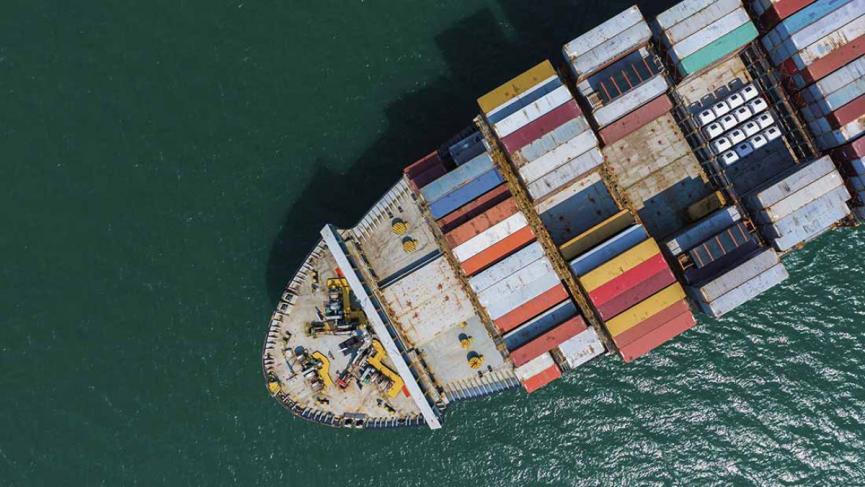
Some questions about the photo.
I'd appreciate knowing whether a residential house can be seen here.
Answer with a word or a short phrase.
No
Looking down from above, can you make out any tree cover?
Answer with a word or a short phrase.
No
